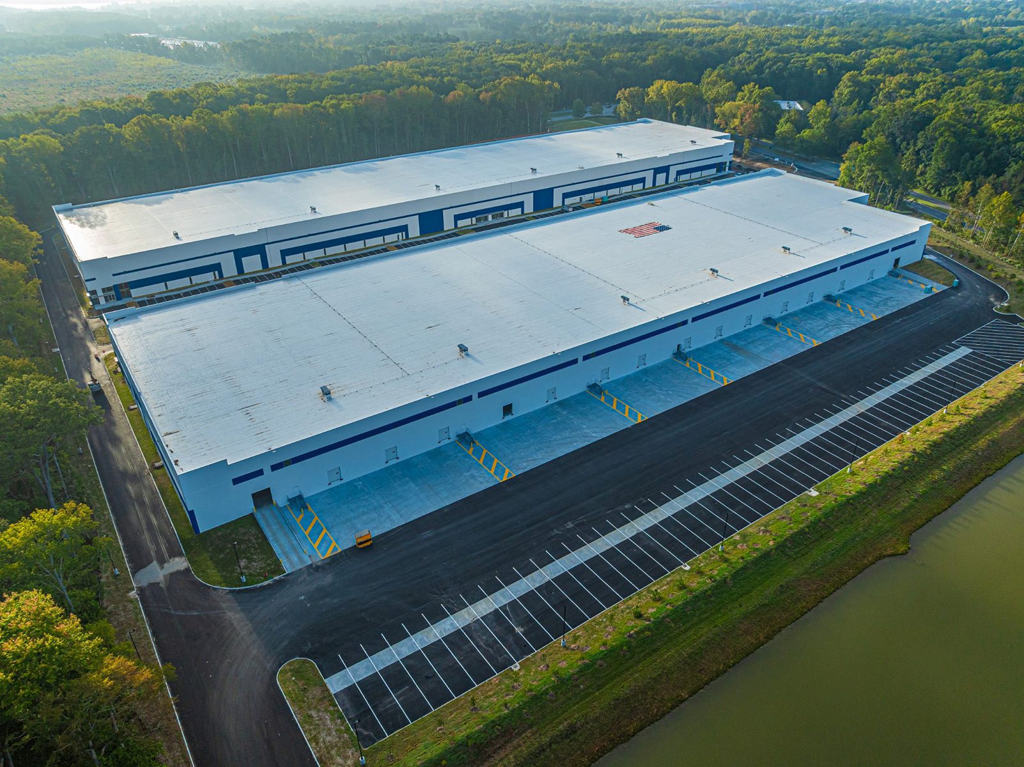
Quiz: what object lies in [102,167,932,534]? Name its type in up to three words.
warehouse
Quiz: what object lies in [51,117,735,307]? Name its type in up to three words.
warehouse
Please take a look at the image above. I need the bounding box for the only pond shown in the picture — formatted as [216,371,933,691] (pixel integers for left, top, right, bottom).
[600,455,1024,767]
